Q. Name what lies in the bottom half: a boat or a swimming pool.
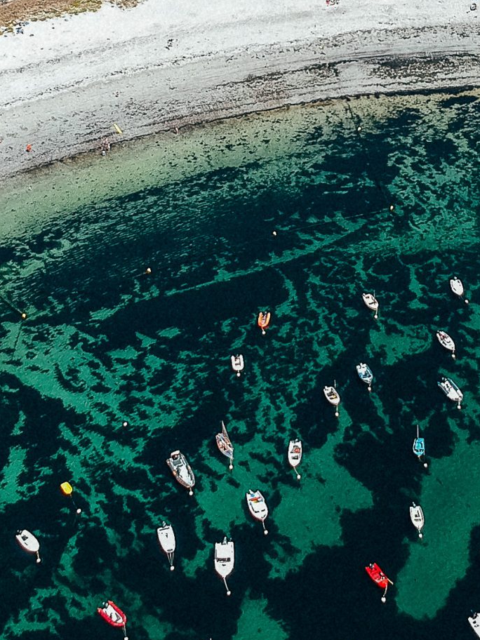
boat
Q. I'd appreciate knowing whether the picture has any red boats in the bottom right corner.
Yes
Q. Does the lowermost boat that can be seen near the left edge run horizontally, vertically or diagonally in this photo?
diagonally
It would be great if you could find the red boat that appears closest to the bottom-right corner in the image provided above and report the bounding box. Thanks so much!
[365,563,387,594]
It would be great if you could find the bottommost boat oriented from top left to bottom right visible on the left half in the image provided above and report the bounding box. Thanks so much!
[96,599,126,632]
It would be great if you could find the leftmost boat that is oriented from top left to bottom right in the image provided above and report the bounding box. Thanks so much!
[14,527,39,557]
